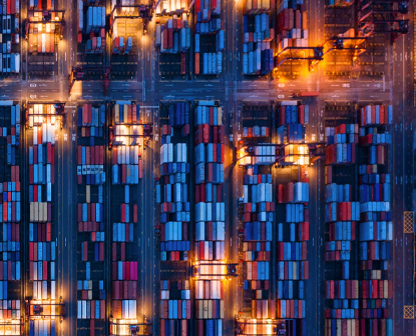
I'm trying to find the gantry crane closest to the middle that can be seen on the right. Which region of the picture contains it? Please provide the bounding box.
[233,142,283,163]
